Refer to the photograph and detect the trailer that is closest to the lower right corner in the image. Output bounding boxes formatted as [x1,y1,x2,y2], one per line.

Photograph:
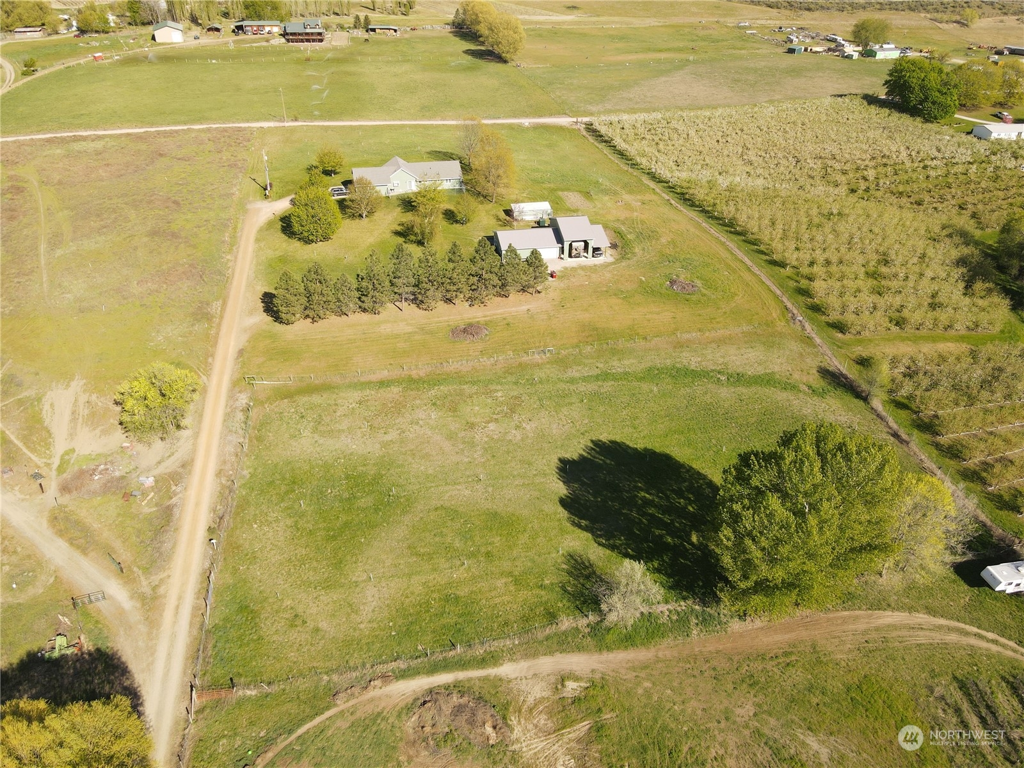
[984,561,1024,597]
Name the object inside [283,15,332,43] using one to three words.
house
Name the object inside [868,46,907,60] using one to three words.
house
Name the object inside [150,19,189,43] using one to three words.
barn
